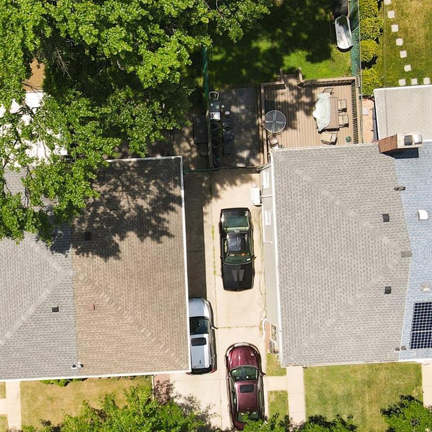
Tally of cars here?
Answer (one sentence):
Looking from above, you can make out 3 cars.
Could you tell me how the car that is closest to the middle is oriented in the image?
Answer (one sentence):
What the image shows is the car that is closest to the middle lying up and down.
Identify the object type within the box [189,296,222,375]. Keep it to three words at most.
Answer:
car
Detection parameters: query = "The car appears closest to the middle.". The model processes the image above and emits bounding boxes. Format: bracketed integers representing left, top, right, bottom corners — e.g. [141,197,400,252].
[219,207,258,291]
